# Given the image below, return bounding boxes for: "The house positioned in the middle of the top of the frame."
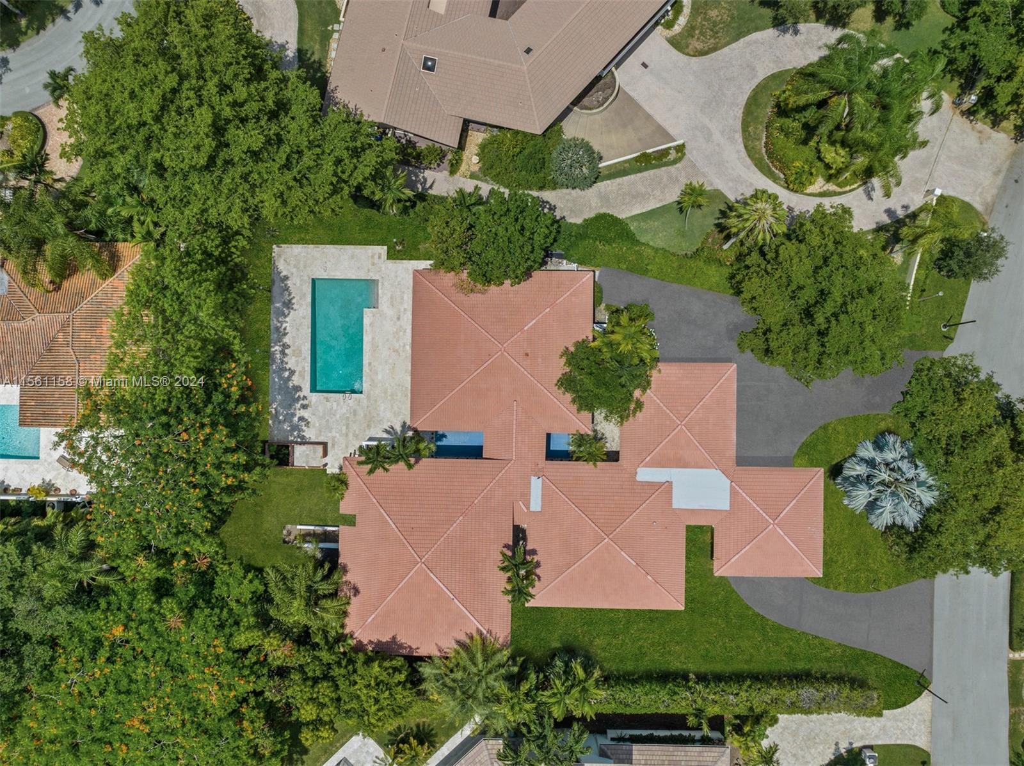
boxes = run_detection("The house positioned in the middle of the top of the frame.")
[322,0,679,148]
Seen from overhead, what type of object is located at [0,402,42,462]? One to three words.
swimming pool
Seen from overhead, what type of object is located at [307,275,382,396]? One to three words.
swimming pool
